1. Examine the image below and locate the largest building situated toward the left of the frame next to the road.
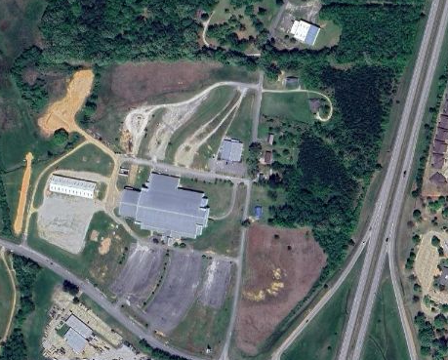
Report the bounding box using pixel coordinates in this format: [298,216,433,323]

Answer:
[119,173,208,238]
